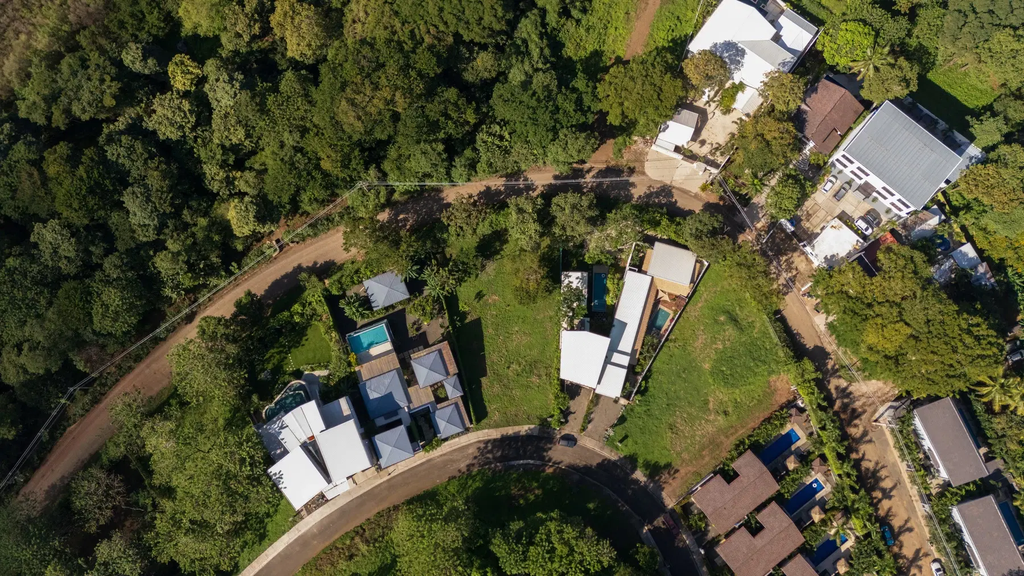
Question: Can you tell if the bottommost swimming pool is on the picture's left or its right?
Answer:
right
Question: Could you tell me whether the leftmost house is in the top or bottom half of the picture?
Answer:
bottom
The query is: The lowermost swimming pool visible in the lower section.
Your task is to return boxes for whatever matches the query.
[805,527,856,572]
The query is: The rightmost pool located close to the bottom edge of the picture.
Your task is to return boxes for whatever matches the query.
[997,499,1024,549]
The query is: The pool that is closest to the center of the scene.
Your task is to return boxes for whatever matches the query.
[592,265,609,311]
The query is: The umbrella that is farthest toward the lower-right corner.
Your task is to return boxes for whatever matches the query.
[834,558,849,573]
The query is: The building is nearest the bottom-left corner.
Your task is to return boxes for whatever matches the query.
[258,395,377,510]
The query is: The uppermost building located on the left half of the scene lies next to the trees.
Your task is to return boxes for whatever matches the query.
[363,270,409,310]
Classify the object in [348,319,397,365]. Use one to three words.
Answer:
swimming pool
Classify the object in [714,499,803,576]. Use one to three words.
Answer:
house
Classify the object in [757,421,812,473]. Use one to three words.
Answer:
swimming pool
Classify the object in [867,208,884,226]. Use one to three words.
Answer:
car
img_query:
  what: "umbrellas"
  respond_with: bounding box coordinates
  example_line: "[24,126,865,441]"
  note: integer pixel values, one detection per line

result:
[785,454,799,469]
[810,506,824,521]
[834,558,849,573]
